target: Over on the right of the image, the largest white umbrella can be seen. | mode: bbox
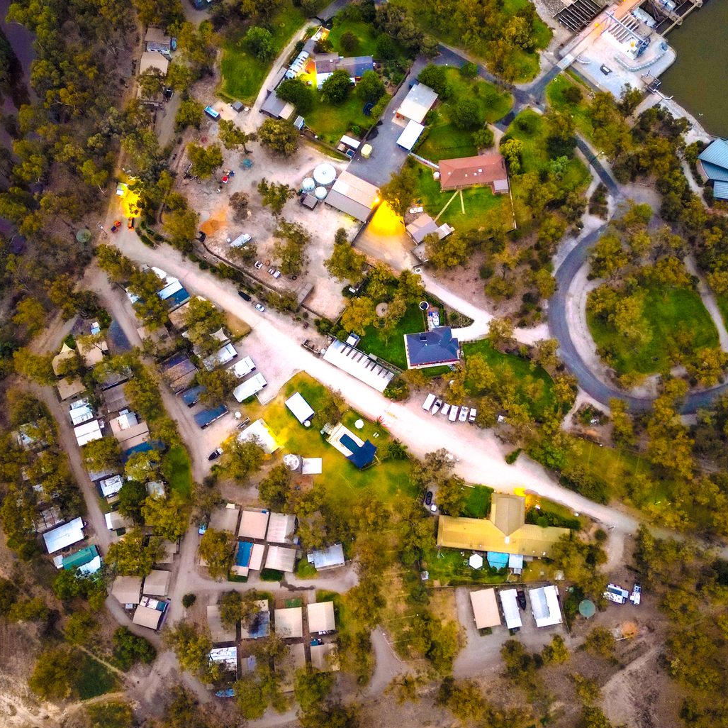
[469,553,482,567]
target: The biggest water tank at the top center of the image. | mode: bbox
[312,162,337,187]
